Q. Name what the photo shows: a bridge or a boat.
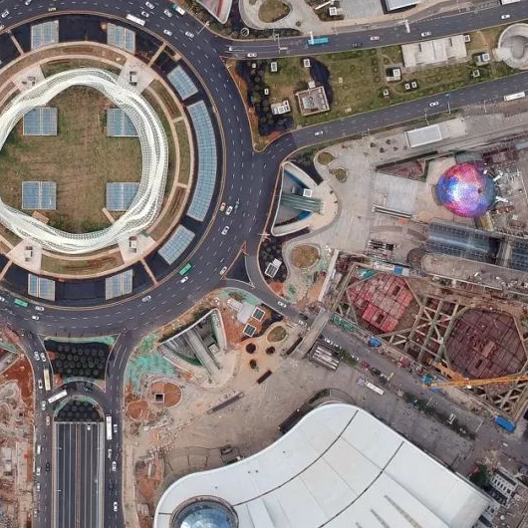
bridge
